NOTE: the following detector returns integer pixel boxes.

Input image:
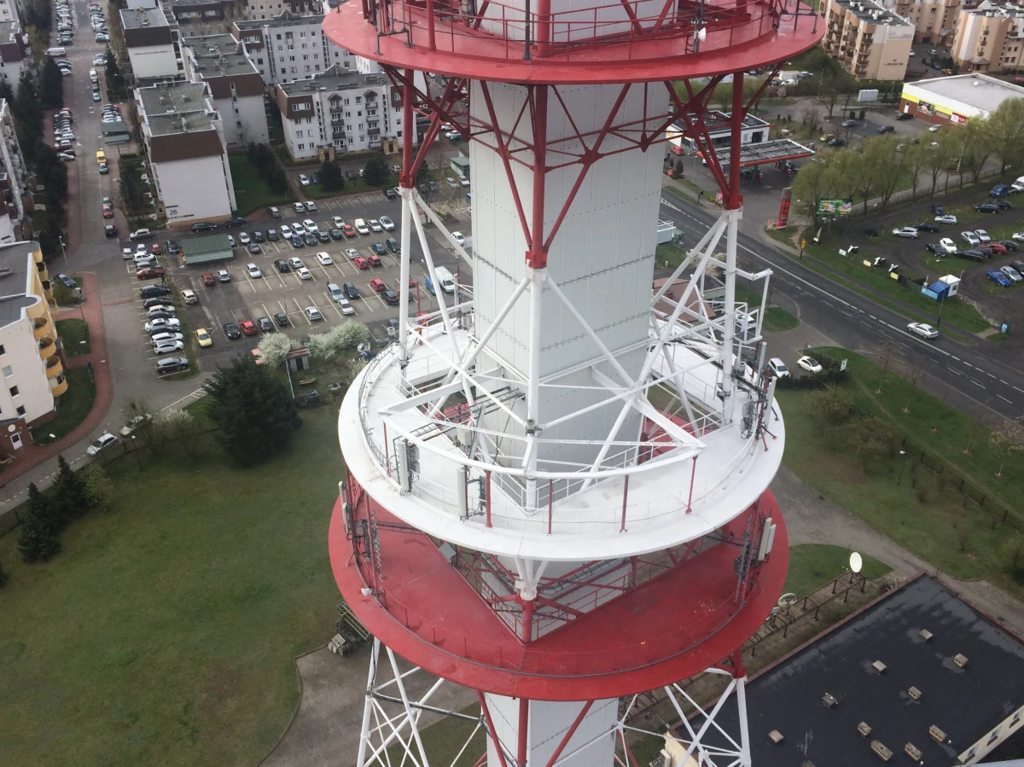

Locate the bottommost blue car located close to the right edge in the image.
[982,271,1015,287]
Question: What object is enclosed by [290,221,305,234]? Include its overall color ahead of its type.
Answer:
white vehicle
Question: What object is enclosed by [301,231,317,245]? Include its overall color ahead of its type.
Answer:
gray car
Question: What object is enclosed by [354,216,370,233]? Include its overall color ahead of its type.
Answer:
white vehicle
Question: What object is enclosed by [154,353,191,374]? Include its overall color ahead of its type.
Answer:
gray car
